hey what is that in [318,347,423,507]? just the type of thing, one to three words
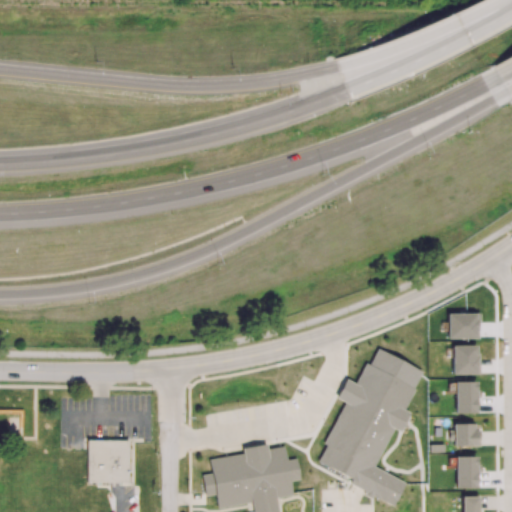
building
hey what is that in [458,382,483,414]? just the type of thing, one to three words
house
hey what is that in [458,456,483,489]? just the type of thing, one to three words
house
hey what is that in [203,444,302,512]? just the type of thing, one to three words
building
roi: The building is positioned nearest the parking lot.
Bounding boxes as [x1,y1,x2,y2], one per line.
[88,438,131,486]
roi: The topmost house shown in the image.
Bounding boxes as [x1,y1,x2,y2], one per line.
[450,313,482,340]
